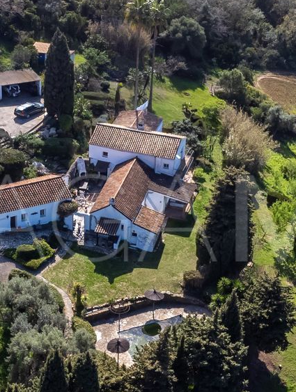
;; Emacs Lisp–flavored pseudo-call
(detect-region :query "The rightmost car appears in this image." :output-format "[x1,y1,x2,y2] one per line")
[12,99,46,115]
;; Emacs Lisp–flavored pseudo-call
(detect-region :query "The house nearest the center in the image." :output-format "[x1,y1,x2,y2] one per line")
[73,108,199,260]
